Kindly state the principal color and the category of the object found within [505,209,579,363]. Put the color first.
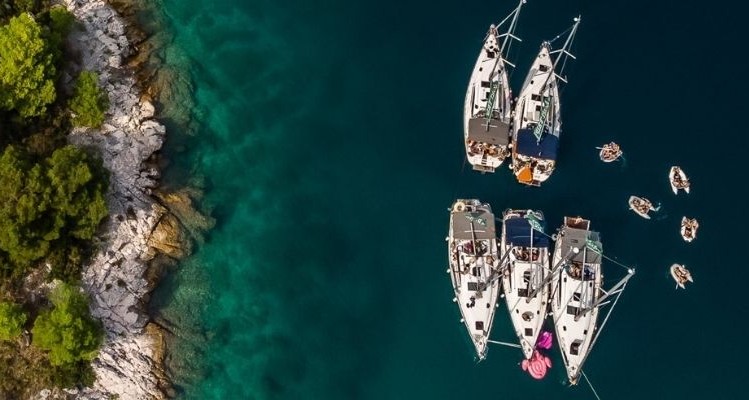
white boat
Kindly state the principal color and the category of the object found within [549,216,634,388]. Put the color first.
white boat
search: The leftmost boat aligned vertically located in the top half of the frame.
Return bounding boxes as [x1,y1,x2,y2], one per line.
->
[466,0,524,174]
